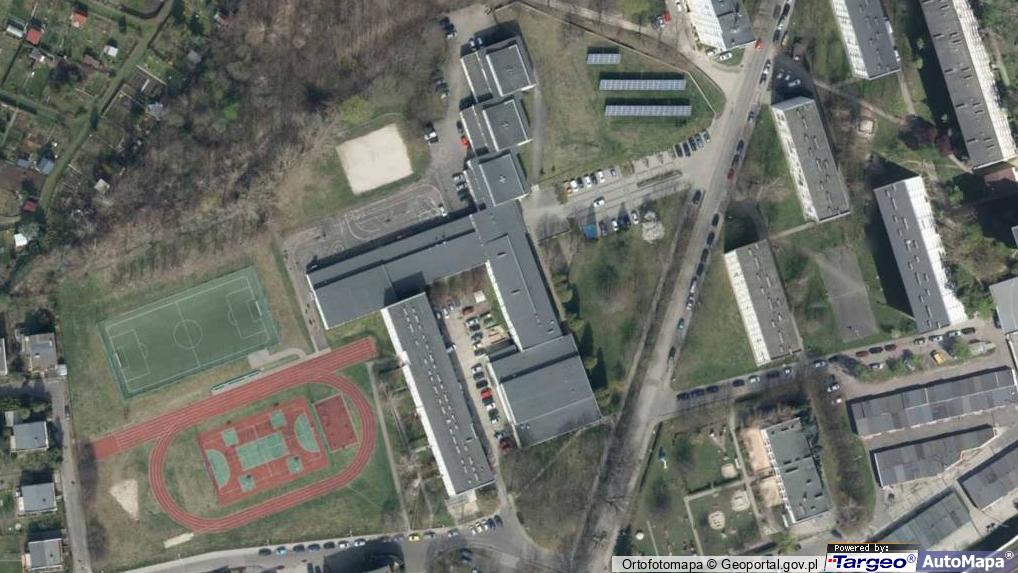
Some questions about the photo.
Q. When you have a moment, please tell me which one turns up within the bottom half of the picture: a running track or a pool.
running track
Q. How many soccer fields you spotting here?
1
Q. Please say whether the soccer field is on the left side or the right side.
left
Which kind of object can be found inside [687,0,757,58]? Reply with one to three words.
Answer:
building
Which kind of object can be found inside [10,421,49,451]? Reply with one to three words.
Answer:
house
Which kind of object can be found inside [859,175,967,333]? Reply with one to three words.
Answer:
building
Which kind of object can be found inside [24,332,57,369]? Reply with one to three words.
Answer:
house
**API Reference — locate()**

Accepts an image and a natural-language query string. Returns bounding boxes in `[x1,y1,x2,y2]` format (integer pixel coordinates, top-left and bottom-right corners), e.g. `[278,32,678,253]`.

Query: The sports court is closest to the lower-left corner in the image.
[199,397,328,505]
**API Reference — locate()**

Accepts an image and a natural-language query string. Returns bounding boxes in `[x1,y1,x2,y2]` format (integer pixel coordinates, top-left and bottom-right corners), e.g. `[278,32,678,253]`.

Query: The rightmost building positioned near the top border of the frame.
[904,0,1017,171]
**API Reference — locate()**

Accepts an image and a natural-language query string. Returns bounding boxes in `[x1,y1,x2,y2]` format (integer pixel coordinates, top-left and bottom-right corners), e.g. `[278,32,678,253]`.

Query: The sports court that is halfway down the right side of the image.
[816,246,878,341]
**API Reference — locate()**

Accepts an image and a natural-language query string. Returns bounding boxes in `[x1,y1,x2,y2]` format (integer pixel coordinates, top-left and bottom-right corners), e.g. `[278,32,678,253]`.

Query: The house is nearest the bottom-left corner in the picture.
[23,537,63,573]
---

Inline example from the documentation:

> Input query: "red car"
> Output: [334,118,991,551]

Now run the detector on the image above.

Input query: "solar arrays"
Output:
[588,54,619,65]
[605,104,691,115]
[599,80,685,91]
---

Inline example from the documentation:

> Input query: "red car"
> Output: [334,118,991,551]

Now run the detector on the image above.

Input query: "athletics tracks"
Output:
[91,336,378,532]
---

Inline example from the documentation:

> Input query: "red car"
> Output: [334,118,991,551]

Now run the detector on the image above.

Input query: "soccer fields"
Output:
[97,267,279,399]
